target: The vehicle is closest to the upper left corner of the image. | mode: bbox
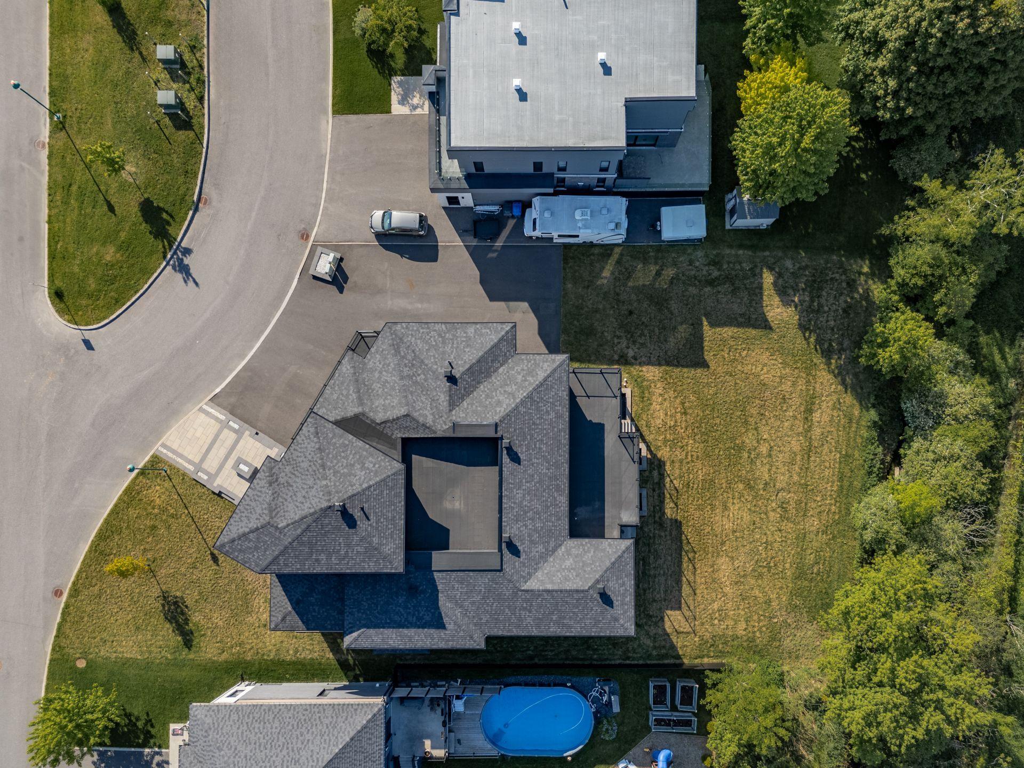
[370,205,429,237]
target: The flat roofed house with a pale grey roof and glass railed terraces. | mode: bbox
[423,0,709,207]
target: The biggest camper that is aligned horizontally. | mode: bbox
[524,195,627,245]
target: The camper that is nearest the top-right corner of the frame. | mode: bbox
[645,206,708,240]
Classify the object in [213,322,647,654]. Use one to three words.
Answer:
house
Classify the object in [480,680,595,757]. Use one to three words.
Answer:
swimming pool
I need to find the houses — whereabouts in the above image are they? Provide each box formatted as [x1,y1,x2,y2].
[213,322,647,654]
[178,686,388,768]
[423,0,709,207]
